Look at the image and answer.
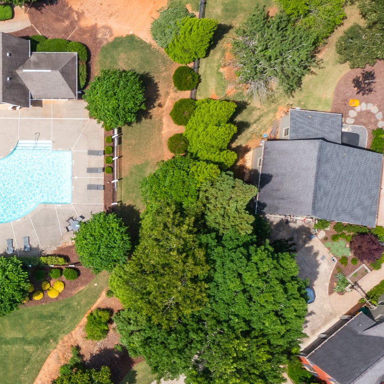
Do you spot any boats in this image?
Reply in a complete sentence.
No, no boat is visible in the view.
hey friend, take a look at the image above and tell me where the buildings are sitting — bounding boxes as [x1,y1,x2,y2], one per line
[298,299,384,384]
[247,109,384,228]
[0,32,79,113]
